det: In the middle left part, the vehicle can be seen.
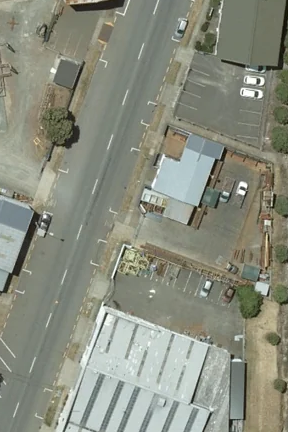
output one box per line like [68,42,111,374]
[35,210,52,237]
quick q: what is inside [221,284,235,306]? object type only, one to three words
car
